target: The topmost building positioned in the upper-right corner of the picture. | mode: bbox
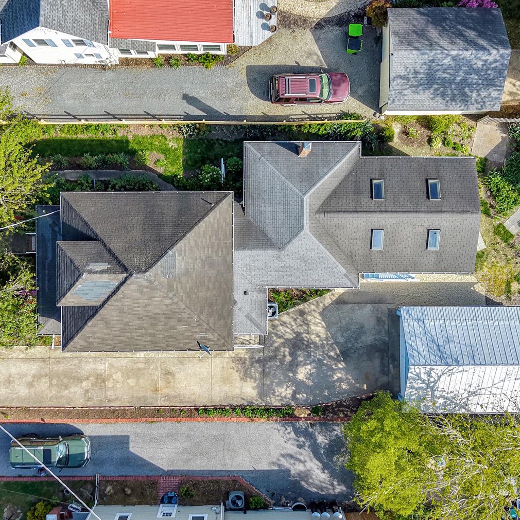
[377,7,512,117]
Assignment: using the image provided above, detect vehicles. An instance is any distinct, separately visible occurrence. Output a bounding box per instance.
[10,429,93,471]
[268,69,350,108]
